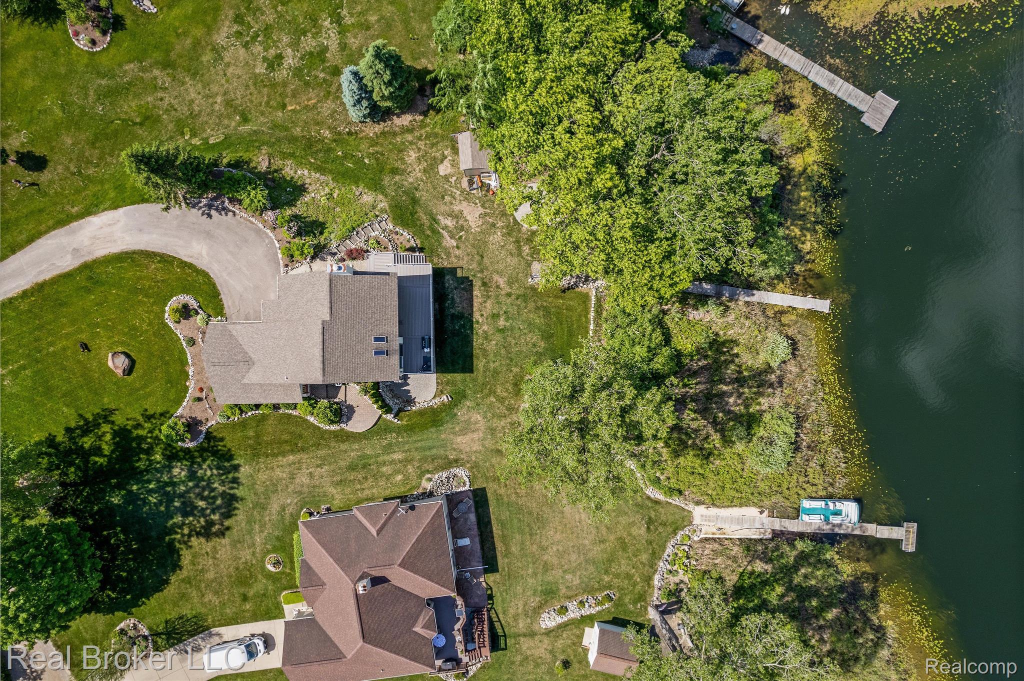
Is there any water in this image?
Yes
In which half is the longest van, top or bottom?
bottom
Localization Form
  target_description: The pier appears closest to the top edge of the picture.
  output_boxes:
[722,10,901,134]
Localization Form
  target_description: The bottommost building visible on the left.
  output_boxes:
[281,494,457,681]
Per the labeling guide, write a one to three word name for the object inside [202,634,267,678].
van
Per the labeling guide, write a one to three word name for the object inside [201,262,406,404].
house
